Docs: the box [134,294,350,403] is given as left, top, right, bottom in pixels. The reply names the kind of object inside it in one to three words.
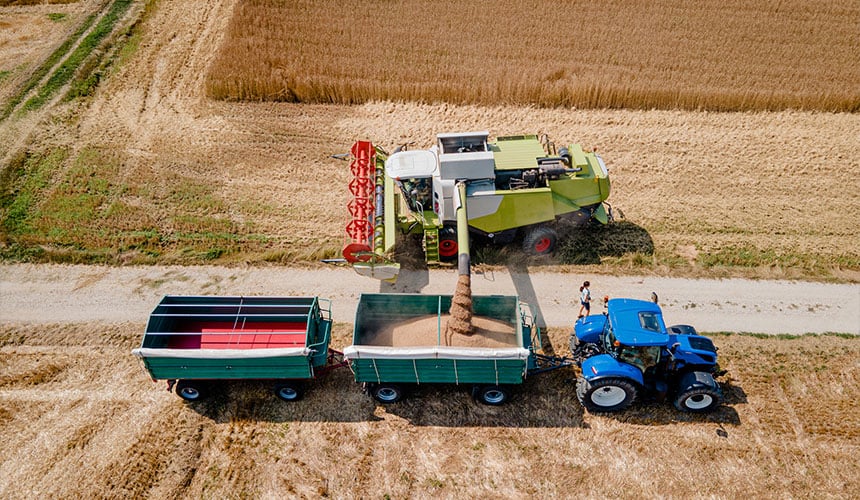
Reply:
trailer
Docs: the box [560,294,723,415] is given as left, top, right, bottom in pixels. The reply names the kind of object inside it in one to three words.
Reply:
work vehicle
